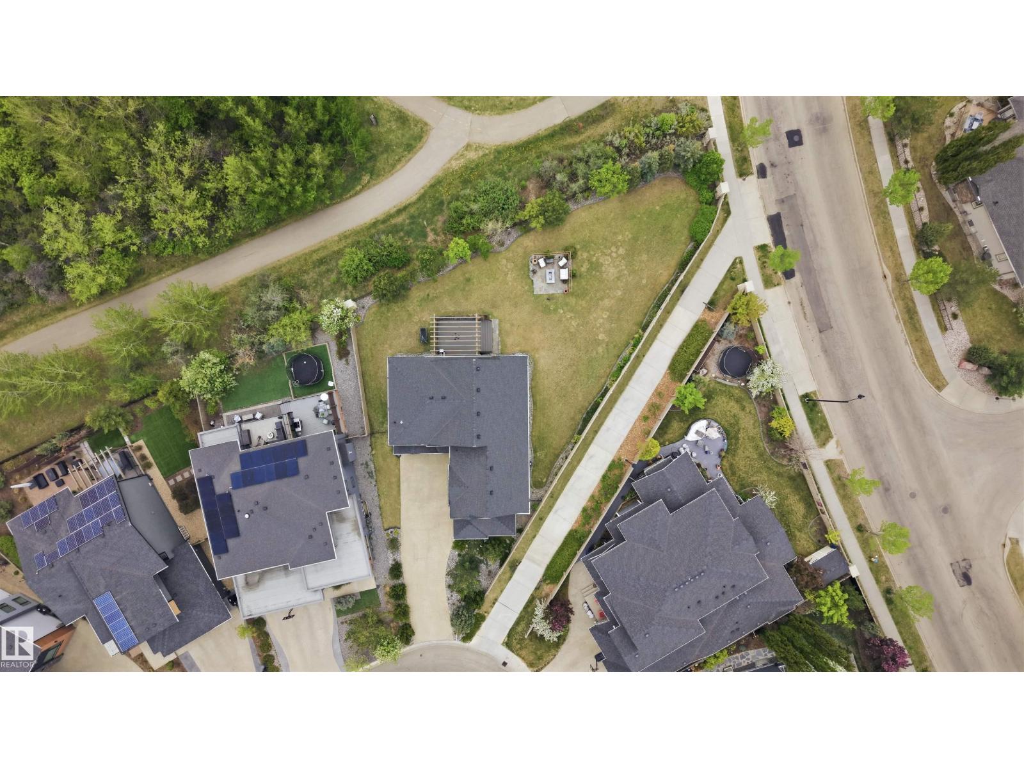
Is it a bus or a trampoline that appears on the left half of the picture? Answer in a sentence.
The feature located on the left half of the picture is a trampoline.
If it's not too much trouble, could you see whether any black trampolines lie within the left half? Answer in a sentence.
Yes, a black trampoline appears within the left half.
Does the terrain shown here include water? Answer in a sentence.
No, water can't be seen anywhere here.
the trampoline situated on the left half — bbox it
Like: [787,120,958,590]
[284,351,326,388]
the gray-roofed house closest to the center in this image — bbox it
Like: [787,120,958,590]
[387,354,531,540]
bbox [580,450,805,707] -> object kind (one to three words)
house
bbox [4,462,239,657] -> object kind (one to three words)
house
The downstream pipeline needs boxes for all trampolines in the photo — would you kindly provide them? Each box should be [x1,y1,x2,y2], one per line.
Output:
[284,351,326,388]
[716,344,759,381]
